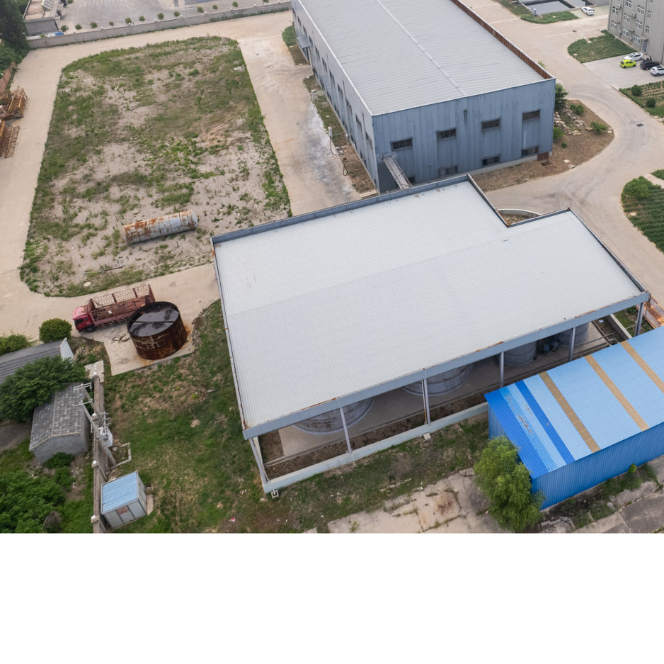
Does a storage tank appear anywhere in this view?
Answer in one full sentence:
Yes, I can see a storage tank in this picture.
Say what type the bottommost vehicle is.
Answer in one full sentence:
The bottommost vehicle is a truck.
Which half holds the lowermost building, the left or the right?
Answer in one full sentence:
The lowermost building sits on the left side.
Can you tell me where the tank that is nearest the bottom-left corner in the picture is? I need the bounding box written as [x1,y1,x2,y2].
[123,300,191,365]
